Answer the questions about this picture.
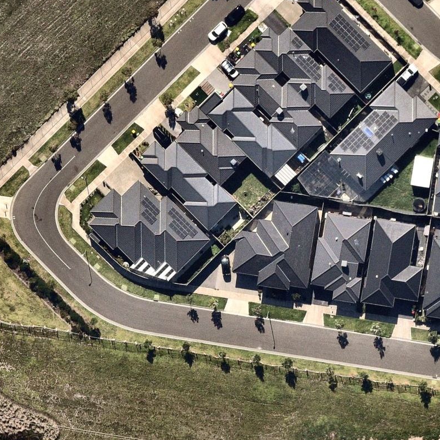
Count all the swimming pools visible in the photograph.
0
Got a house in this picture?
Yes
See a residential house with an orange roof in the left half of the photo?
No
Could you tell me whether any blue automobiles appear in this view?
No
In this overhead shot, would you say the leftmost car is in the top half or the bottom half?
top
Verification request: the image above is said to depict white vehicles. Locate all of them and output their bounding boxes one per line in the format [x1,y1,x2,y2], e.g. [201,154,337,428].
[208,23,228,43]
[219,57,239,79]
[395,65,419,87]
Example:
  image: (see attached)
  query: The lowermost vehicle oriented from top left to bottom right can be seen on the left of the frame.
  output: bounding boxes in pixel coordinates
[153,125,172,148]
